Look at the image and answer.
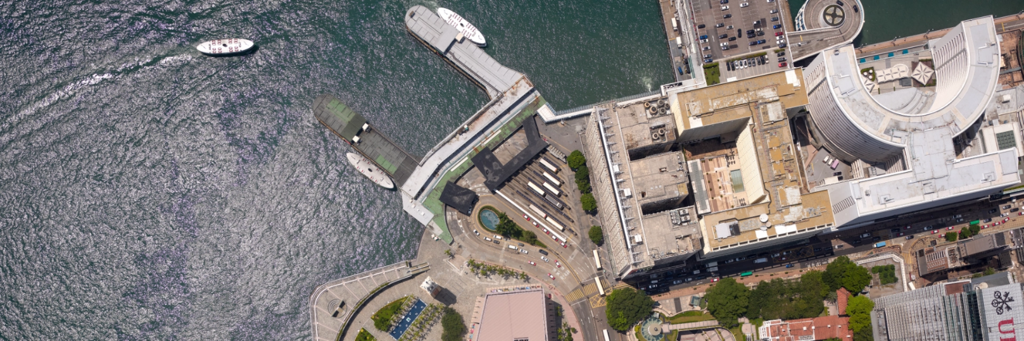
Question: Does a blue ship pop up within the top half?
No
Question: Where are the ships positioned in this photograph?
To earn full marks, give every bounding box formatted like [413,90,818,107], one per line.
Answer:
[198,39,256,58]
[347,154,393,190]
[440,10,485,47]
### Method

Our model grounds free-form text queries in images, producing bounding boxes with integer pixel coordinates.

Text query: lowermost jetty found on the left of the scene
[313,94,421,192]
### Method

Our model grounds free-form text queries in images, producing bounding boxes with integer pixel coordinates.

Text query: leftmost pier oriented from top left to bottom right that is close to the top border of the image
[402,5,528,103]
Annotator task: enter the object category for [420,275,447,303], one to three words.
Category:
building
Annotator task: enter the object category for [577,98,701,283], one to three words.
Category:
building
